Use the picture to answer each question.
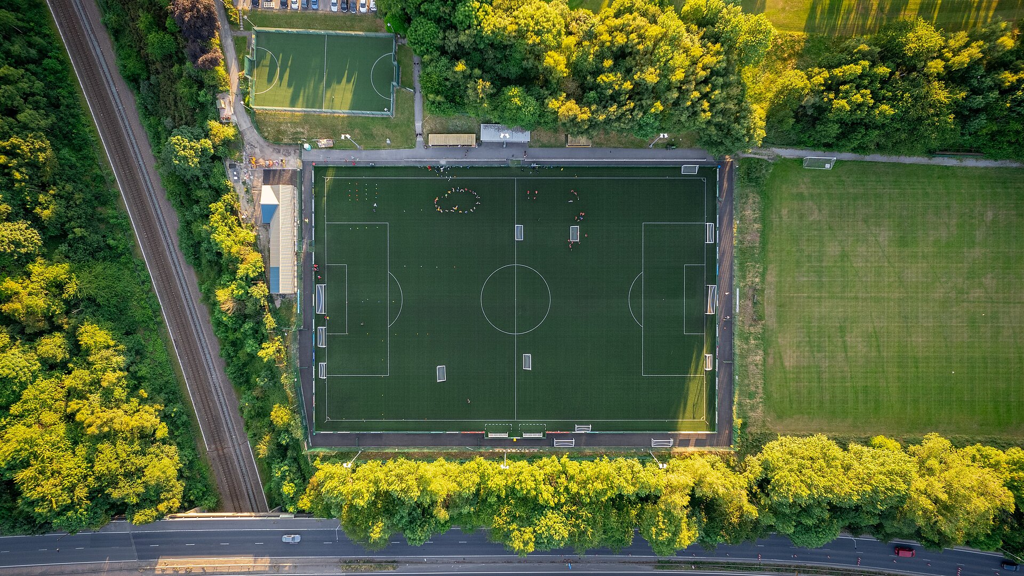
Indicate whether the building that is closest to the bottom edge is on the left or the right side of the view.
left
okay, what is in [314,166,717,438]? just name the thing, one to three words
soccer field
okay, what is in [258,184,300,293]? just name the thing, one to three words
building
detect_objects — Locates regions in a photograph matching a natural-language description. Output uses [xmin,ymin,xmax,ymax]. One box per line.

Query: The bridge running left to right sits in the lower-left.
[108,503,340,522]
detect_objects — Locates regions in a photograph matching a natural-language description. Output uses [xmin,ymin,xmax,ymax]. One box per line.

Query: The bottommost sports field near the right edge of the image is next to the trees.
[768,161,1024,438]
